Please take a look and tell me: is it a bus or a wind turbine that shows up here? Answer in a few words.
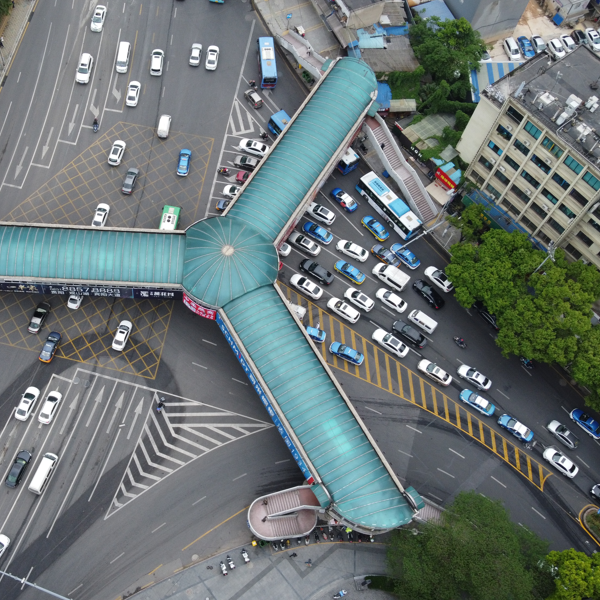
bus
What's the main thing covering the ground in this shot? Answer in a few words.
paved ground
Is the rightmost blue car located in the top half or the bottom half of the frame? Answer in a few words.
bottom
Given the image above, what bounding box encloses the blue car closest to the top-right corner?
[518,36,536,58]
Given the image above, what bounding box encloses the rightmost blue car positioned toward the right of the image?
[570,410,600,438]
